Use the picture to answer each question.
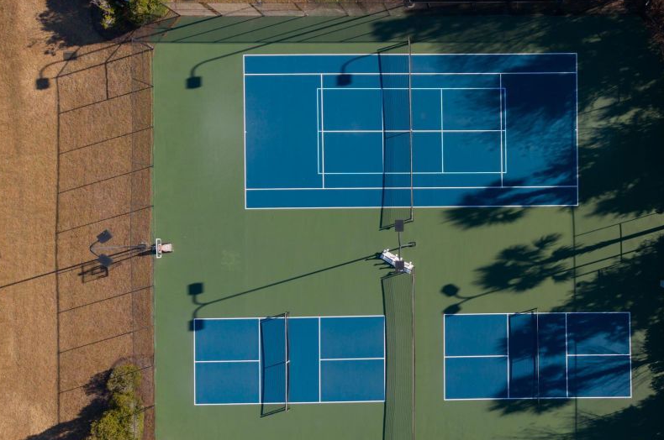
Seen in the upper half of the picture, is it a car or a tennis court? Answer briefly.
tennis court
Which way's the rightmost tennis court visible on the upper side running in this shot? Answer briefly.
from side to side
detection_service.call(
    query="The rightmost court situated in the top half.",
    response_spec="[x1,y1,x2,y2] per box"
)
[244,51,579,209]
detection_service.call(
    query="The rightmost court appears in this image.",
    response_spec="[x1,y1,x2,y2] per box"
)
[443,312,632,401]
